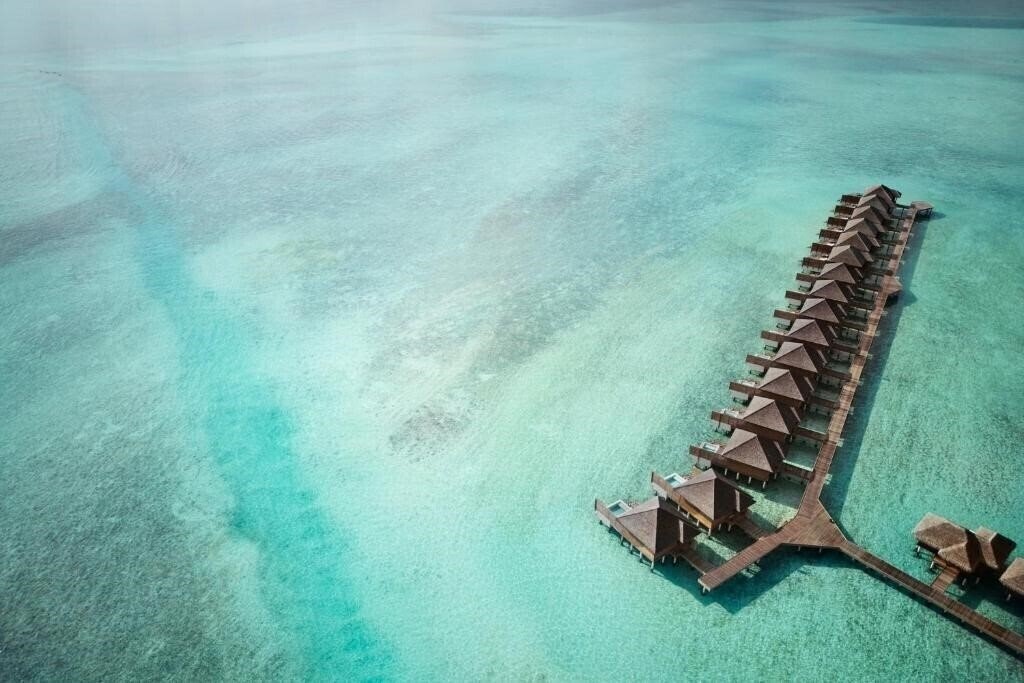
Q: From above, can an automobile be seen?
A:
No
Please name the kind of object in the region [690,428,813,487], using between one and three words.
house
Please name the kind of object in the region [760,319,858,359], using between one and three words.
house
